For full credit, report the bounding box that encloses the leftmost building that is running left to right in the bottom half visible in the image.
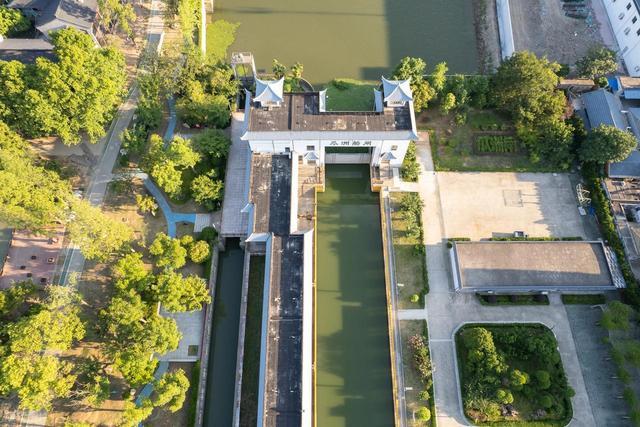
[444,244,615,298]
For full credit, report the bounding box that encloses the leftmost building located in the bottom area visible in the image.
[239,148,314,427]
